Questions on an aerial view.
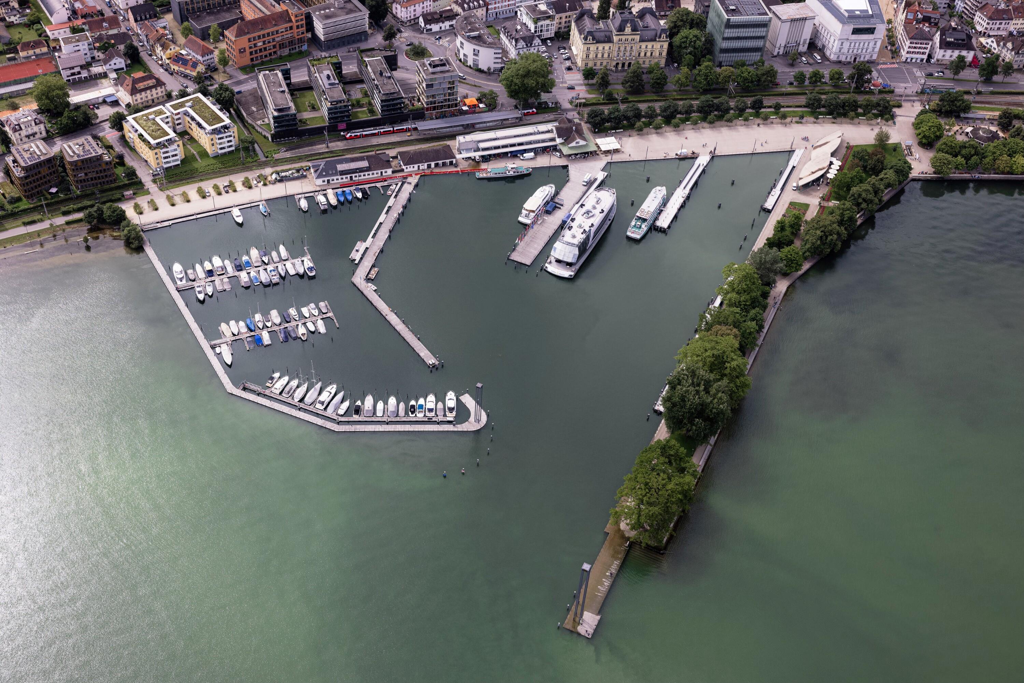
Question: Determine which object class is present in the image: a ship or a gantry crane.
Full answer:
The one in the frame is a ship.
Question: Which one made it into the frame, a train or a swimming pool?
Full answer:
There is a train in the scene.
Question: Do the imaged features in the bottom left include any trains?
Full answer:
No, no train can be made out in the bottom left.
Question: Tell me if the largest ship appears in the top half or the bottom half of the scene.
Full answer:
You can find the largest ship in the top half.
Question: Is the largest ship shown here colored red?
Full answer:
No, the color of the largest ship is white.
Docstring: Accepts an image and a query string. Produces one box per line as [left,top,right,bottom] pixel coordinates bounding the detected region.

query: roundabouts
[389,37,449,69]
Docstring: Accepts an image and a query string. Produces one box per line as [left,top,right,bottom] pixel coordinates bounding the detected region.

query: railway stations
[273,108,555,160]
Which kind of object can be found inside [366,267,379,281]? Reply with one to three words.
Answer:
ship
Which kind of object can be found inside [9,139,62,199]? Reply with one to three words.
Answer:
building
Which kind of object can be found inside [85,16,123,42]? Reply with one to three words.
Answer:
house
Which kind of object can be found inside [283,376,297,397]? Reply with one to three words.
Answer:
boat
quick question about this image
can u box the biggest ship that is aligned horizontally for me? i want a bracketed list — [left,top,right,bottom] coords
[475,163,532,179]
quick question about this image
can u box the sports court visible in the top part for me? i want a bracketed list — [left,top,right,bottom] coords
[0,45,59,83]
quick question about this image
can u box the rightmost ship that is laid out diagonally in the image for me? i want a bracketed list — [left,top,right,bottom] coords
[628,186,665,240]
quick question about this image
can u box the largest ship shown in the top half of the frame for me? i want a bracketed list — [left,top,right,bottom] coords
[545,185,615,278]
